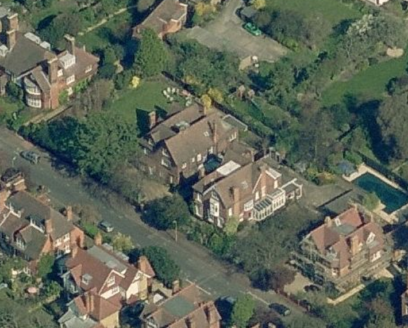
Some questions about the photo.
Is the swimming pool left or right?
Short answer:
right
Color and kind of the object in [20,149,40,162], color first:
gray vehicle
